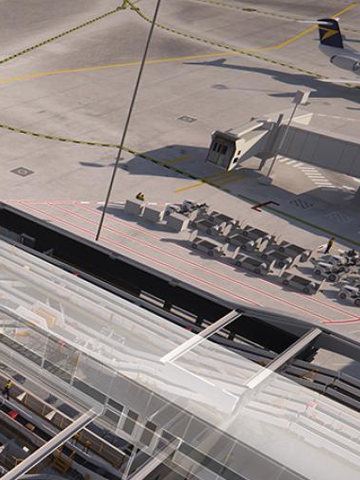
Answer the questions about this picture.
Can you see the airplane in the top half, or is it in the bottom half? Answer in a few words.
top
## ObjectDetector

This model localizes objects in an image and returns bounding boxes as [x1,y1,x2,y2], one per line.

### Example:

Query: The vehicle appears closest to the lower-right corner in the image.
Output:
[333,281,360,305]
